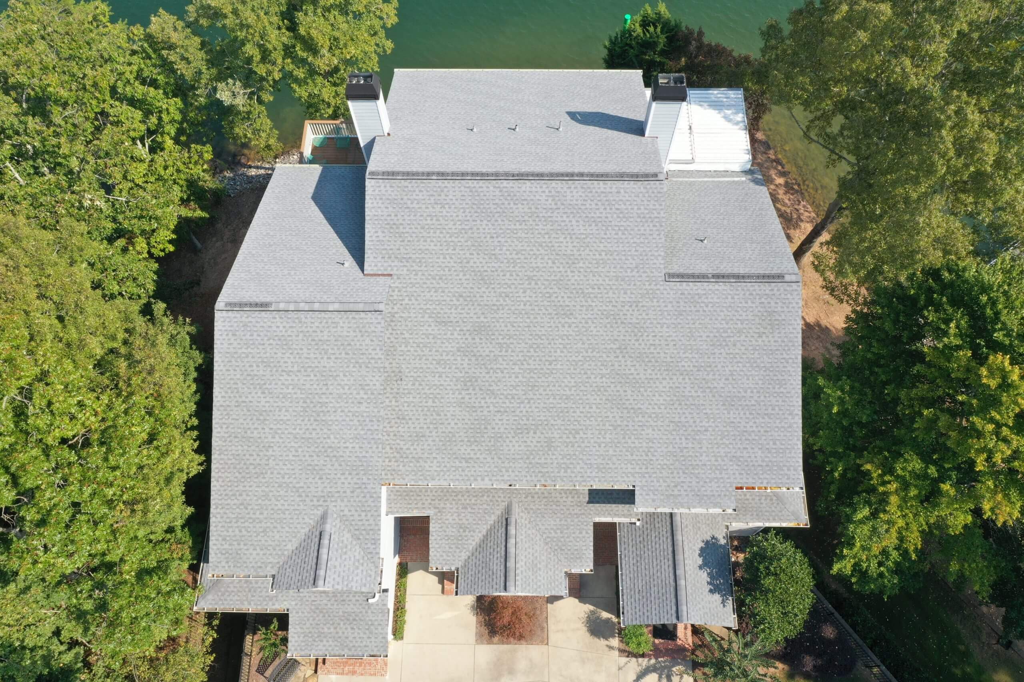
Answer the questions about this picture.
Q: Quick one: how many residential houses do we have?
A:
1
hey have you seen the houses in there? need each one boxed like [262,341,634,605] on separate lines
[190,67,812,662]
